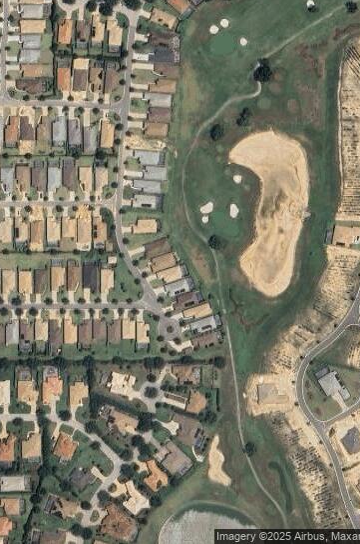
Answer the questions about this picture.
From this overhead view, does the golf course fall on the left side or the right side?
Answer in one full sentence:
The golf course appears in the right half of the scene.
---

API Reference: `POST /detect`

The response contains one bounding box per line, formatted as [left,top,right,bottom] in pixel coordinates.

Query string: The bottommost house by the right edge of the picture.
[322,370,344,400]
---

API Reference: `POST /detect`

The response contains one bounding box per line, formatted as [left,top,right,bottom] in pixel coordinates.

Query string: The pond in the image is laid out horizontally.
[158,508,263,544]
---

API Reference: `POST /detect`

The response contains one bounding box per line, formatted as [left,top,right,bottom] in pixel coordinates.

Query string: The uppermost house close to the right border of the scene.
[335,226,360,245]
